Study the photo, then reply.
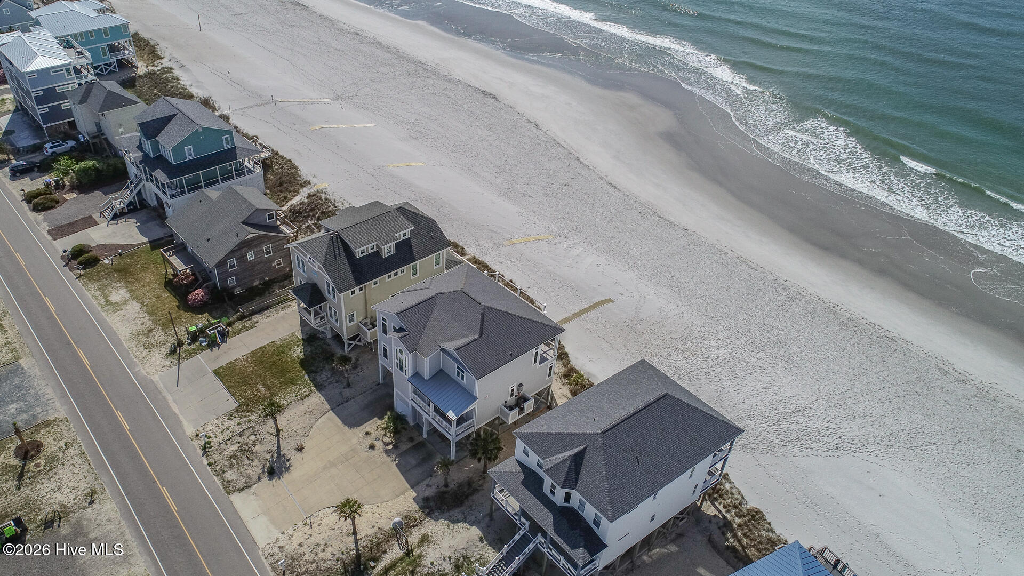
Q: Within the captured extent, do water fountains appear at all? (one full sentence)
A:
No, the photo shows no water fountain.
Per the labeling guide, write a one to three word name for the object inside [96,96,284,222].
house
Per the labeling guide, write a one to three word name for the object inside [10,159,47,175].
car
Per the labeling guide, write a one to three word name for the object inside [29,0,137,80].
house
